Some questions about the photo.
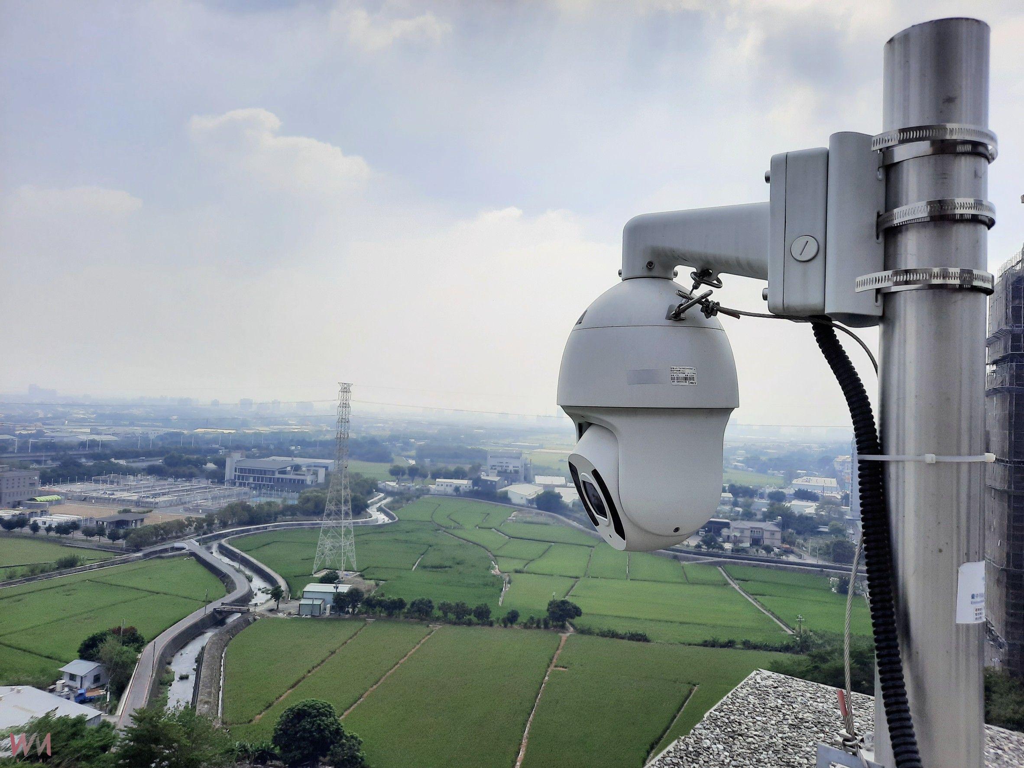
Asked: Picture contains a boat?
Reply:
No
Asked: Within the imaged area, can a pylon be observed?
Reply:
Yes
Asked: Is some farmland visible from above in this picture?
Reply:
Yes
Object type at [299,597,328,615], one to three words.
shed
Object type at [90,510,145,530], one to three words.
building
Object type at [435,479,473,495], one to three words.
house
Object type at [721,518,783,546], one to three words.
house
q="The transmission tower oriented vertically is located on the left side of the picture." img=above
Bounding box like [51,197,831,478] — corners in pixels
[307,382,360,575]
